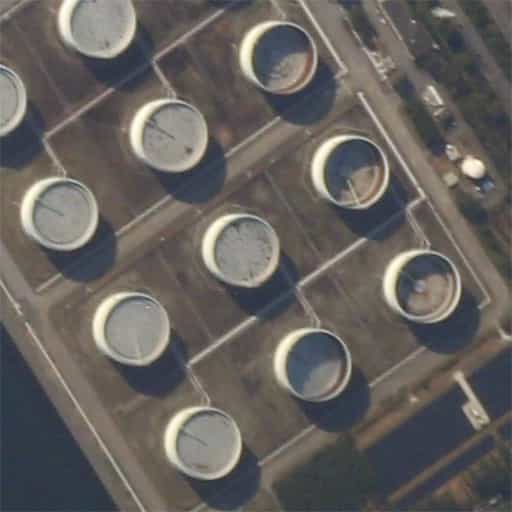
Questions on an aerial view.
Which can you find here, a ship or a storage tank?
storage tank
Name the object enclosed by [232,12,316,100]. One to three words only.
storage tank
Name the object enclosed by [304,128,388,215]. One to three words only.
storage tank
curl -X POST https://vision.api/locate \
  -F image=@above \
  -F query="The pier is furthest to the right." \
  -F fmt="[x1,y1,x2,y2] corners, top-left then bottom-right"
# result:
[455,371,490,429]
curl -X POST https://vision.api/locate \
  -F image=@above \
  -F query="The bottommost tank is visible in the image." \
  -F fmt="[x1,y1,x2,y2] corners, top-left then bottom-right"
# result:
[157,396,242,484]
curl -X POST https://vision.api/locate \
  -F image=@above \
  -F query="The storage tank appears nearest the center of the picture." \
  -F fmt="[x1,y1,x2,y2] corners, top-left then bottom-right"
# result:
[194,205,278,293]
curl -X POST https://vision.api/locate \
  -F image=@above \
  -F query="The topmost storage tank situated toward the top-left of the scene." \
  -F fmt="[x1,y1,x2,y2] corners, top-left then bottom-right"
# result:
[50,0,136,64]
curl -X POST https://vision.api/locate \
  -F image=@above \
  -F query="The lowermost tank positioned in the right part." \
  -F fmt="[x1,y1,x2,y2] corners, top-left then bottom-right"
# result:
[266,320,350,407]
